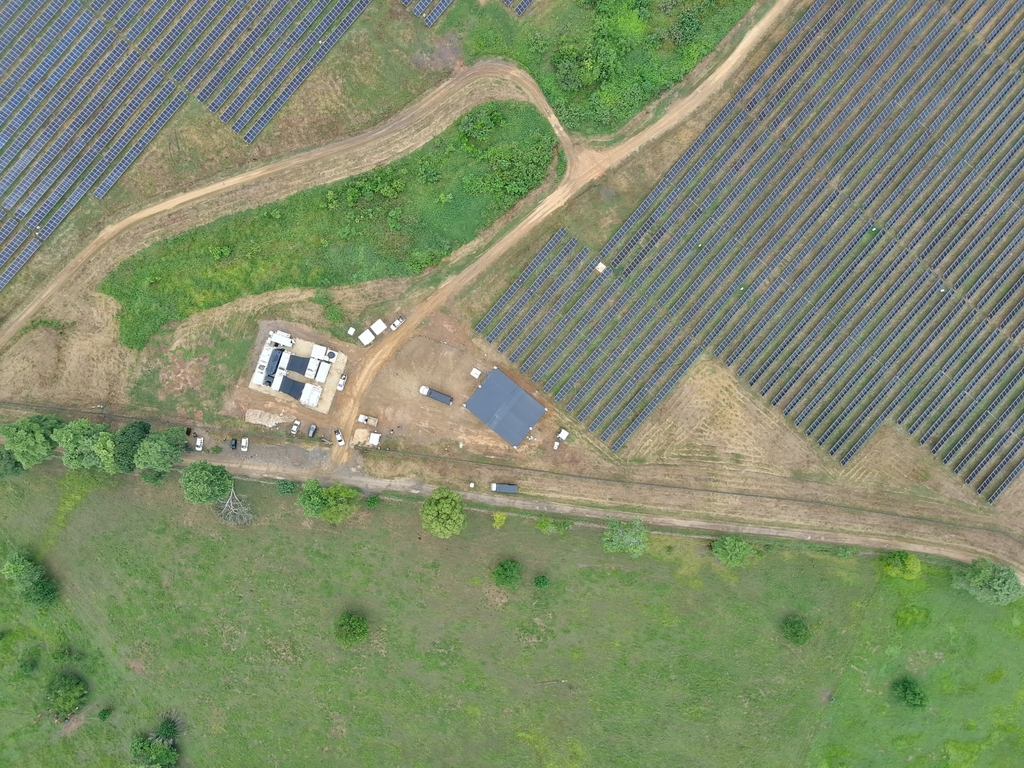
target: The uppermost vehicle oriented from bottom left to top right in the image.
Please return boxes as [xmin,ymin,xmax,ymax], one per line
[390,316,406,331]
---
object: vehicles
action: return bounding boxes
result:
[338,373,348,391]
[241,437,249,451]
[291,419,301,434]
[357,414,379,427]
[491,482,518,493]
[231,438,238,449]
[196,437,205,451]
[419,386,454,405]
[308,423,317,438]
[390,316,406,331]
[334,428,345,446]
